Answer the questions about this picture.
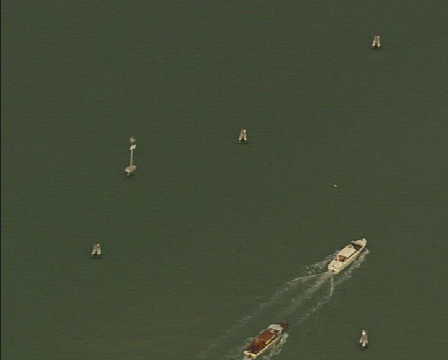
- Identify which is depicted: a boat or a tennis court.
boat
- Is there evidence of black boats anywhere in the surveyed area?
No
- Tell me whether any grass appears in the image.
No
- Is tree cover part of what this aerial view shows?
No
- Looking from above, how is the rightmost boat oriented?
at an angle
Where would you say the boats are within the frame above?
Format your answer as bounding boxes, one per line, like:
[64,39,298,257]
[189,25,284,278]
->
[243,322,286,359]
[325,237,367,274]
